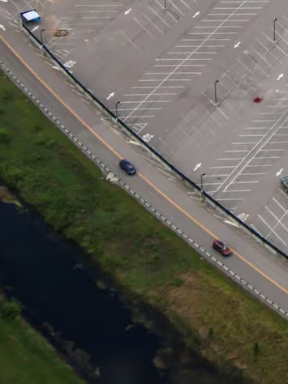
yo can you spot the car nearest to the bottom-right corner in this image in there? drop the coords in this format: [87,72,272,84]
[214,237,230,256]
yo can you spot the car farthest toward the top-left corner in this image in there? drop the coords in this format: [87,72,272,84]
[120,159,135,175]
